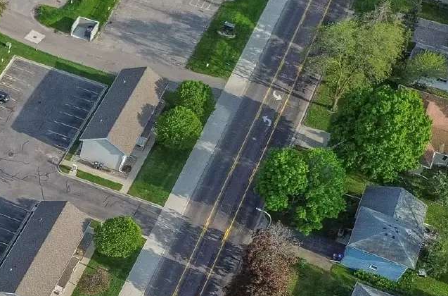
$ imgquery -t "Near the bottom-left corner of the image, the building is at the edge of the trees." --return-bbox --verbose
[0,200,96,296]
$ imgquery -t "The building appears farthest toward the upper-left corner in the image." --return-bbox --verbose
[79,66,168,166]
